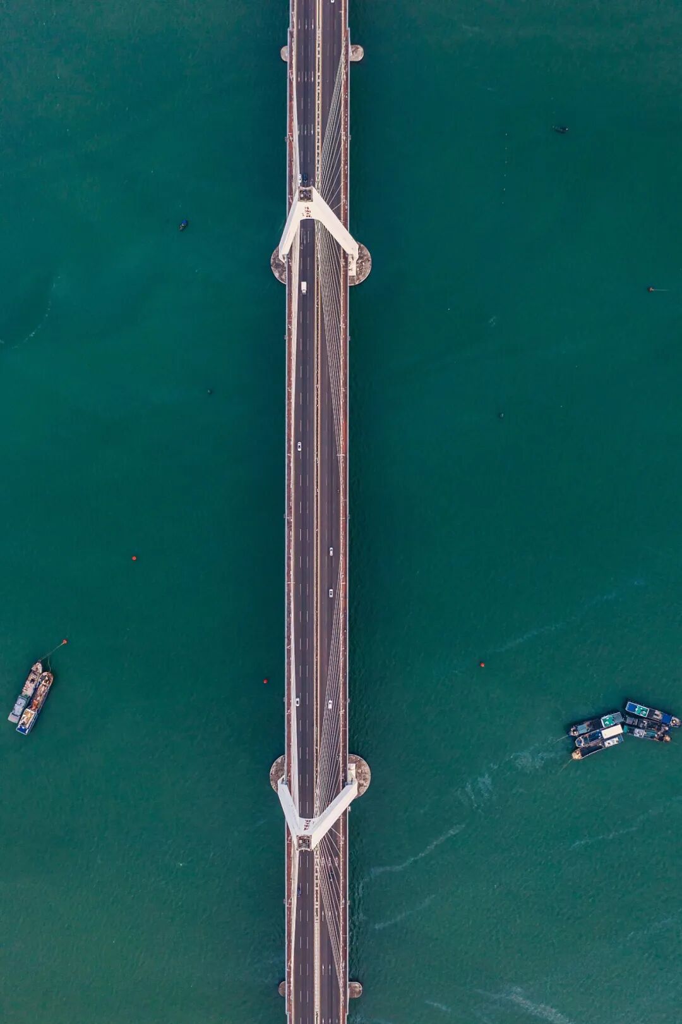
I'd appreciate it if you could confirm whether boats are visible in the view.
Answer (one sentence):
Yes, there's a boat here.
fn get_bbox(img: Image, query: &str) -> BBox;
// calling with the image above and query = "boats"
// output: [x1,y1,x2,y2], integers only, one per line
[623,726,671,744]
[178,221,188,232]
[574,723,627,745]
[624,699,681,725]
[569,710,626,736]
[6,660,43,723]
[624,713,669,734]
[17,671,53,735]
[571,736,626,759]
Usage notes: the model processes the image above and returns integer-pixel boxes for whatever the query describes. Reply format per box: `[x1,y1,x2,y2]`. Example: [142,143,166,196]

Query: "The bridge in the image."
[270,0,372,1024]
